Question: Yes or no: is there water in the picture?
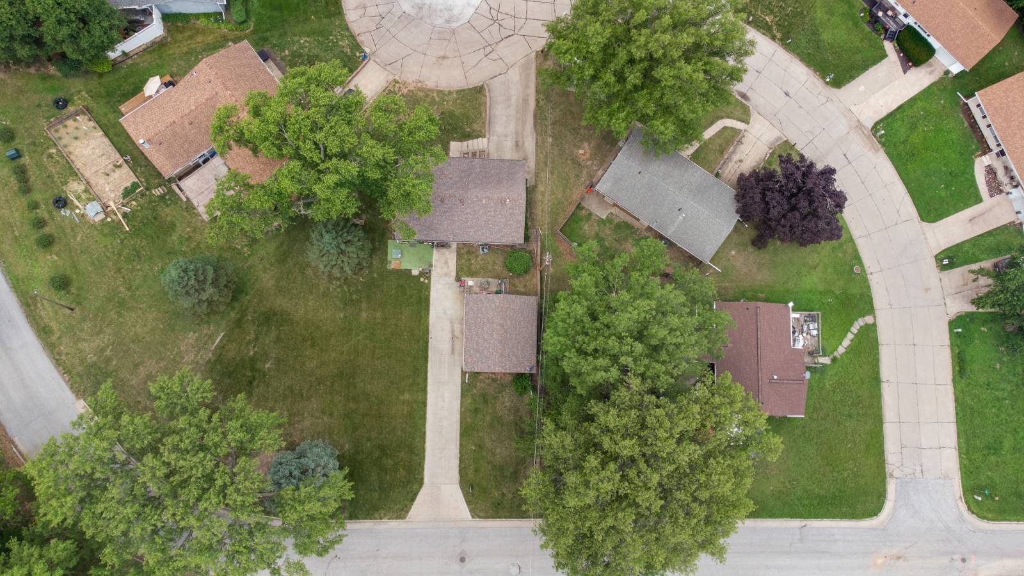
No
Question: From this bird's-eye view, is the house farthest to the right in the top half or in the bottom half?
top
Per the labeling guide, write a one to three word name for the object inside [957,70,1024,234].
house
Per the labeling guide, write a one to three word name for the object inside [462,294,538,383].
building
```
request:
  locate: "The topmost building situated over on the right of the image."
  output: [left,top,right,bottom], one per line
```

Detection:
[872,0,1023,76]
